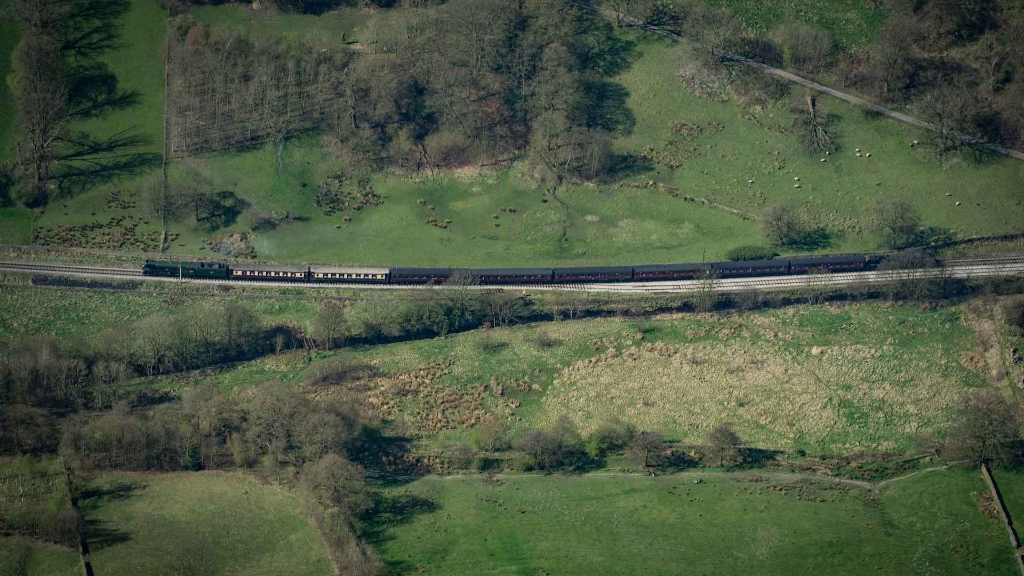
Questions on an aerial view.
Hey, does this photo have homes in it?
No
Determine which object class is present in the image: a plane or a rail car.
rail car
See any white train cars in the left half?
Yes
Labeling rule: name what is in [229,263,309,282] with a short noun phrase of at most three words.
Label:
rail car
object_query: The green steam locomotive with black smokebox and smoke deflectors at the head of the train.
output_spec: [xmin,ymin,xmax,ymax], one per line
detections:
[142,259,198,277]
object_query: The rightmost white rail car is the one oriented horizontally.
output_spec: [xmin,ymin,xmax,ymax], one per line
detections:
[310,267,391,284]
